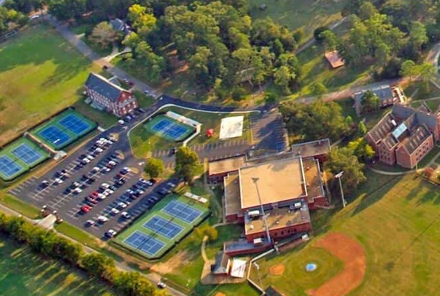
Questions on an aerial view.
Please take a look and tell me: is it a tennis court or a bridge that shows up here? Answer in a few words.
tennis court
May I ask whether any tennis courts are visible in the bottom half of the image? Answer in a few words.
Yes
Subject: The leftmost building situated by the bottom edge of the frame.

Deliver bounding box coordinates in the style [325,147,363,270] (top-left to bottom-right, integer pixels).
[208,253,230,283]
